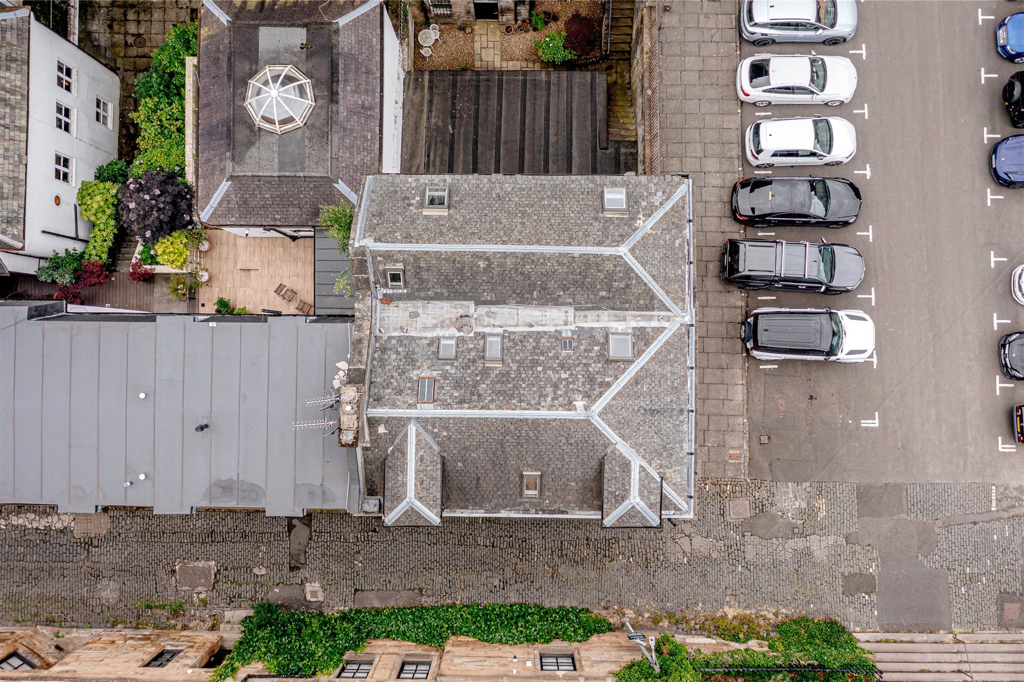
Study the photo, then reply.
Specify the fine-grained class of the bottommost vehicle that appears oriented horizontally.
car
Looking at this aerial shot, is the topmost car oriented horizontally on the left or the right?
right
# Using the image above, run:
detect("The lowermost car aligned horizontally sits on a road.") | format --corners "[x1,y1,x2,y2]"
[741,302,877,366]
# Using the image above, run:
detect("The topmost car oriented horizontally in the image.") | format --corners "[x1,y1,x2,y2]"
[739,0,857,50]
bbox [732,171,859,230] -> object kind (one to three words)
car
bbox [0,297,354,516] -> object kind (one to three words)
building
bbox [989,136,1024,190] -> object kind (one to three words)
car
